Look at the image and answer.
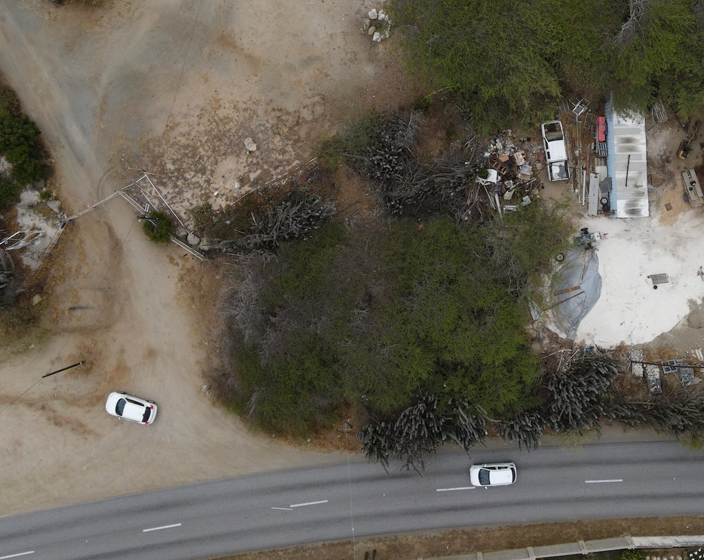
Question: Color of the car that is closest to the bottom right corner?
white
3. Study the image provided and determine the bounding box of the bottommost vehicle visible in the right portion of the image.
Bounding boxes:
[470,461,518,488]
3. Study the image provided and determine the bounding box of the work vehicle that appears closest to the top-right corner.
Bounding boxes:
[671,127,698,163]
